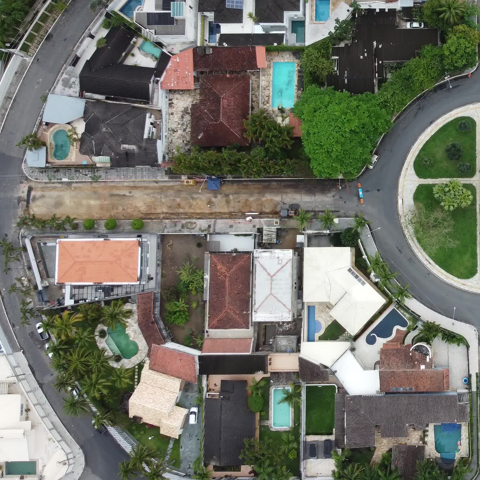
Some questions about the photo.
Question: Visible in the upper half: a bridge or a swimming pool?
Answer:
swimming pool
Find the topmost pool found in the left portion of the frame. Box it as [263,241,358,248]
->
[117,0,145,19]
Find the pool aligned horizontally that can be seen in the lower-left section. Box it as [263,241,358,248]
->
[3,460,37,476]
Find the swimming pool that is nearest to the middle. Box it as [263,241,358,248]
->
[307,305,323,340]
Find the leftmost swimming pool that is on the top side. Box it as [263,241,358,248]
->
[50,127,72,161]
